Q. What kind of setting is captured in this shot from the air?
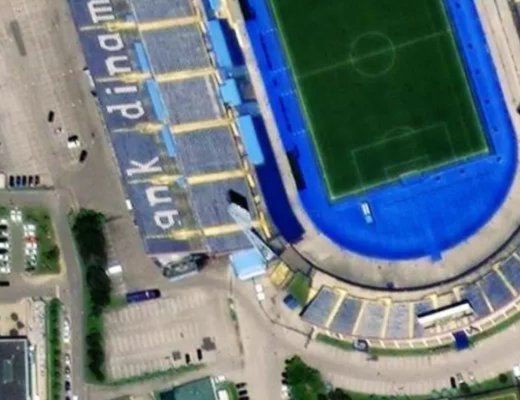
sports ground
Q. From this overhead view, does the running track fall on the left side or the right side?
right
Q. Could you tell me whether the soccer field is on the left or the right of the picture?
right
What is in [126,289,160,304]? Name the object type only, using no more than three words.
vehicle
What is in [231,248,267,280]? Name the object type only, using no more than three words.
building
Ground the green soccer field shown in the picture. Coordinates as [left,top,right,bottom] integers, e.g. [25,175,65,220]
[269,0,494,203]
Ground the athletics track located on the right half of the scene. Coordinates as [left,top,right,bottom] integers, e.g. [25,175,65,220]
[238,0,519,264]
